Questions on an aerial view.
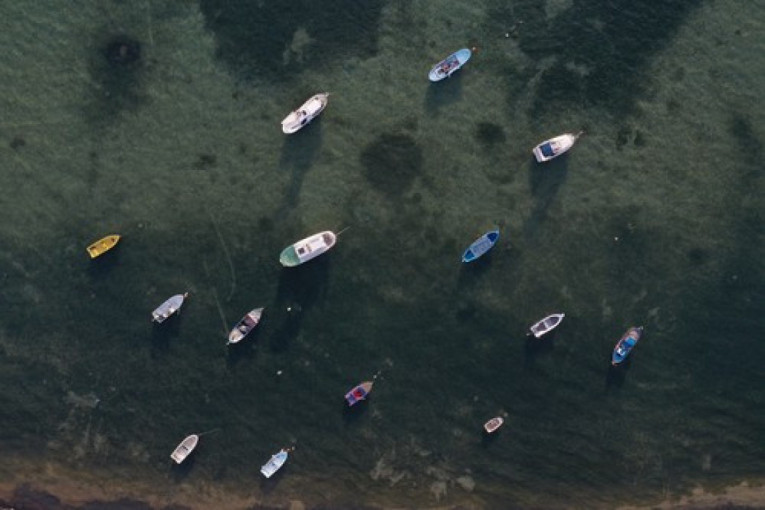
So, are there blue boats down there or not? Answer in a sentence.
Yes, the photo shows a blue boat.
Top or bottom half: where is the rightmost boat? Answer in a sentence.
You can find the rightmost boat in the bottom half.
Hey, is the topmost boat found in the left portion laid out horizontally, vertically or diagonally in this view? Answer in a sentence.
The topmost boat found in the left portion has been laid out diagonally relative to the frame.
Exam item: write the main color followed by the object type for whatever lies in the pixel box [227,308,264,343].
white boat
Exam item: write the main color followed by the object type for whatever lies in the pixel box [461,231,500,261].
blue boat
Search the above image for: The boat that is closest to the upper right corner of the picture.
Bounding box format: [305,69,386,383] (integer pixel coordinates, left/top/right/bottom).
[529,132,583,163]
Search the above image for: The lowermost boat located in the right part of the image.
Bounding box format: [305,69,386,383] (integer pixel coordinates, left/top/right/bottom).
[486,417,504,432]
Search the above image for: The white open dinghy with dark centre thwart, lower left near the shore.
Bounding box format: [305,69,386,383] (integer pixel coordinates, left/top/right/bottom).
[171,435,199,463]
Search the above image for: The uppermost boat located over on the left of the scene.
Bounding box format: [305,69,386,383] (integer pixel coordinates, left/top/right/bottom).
[279,91,331,137]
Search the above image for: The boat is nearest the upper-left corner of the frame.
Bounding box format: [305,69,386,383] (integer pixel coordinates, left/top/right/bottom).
[87,235,122,258]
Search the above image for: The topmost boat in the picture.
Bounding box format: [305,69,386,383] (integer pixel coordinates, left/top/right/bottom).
[428,48,471,81]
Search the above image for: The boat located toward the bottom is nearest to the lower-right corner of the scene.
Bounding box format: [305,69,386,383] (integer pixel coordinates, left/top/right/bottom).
[613,329,642,364]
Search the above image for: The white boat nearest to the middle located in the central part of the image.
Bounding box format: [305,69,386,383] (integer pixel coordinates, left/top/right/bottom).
[278,233,336,267]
